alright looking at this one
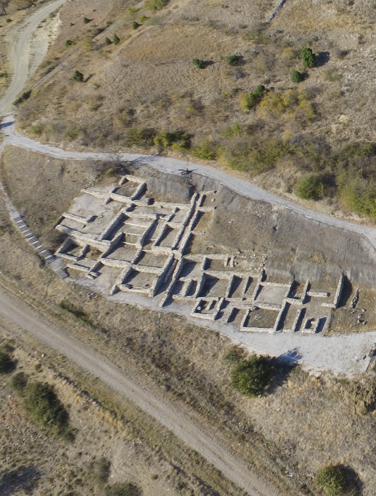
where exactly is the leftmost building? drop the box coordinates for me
[55,238,102,282]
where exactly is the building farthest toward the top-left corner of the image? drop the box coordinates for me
[80,175,152,207]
